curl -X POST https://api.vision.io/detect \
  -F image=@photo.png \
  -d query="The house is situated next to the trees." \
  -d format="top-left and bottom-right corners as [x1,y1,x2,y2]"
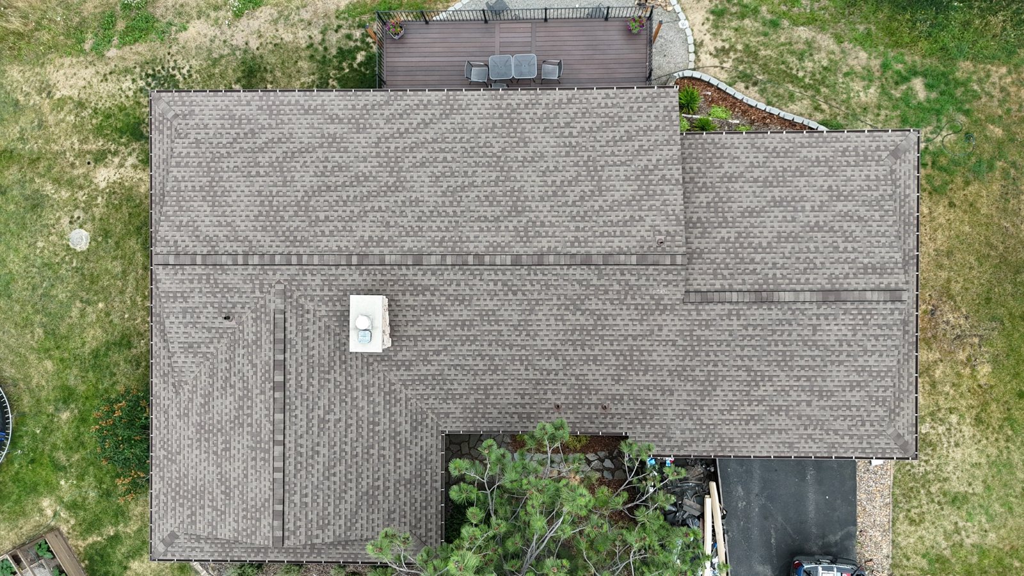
[149,84,920,568]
